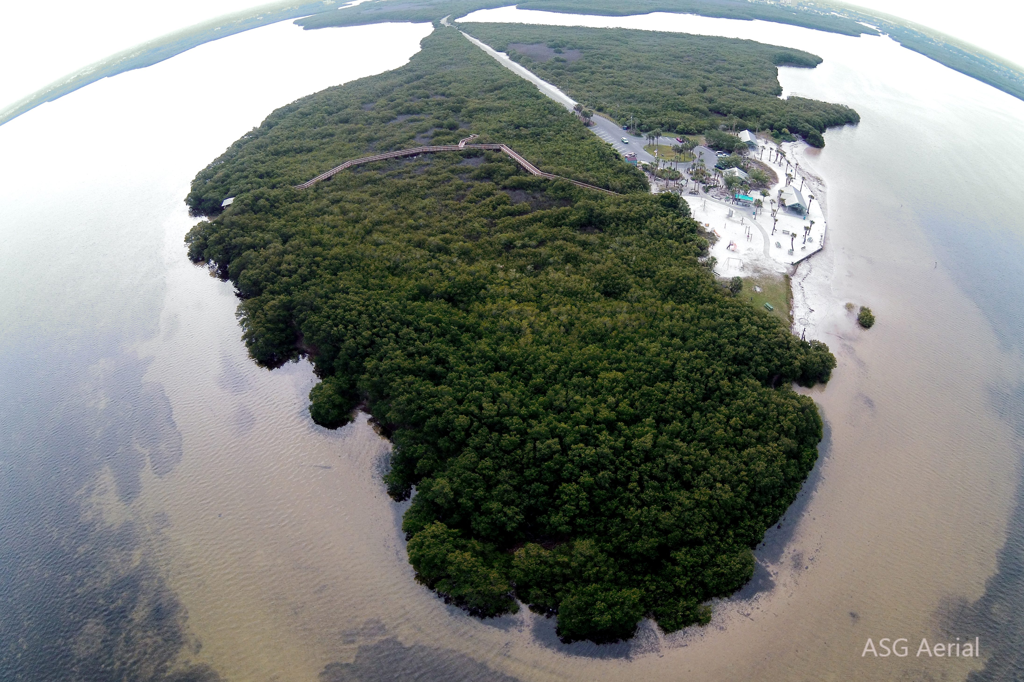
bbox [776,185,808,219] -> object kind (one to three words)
building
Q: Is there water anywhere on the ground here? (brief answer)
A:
Yes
